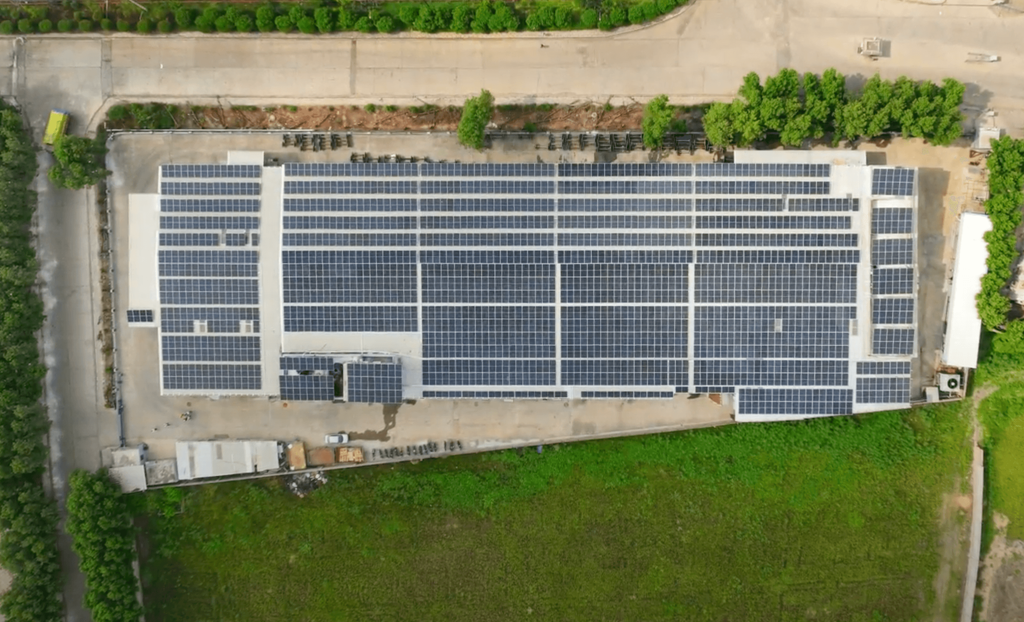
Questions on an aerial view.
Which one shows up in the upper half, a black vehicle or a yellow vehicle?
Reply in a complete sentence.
The one visible in the upper half is a yellow vehicle.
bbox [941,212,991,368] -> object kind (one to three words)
shed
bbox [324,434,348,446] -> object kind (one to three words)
vehicle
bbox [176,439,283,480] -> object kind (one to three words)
shed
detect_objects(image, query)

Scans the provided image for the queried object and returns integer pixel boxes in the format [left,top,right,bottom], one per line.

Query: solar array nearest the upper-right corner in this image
[872,169,914,195]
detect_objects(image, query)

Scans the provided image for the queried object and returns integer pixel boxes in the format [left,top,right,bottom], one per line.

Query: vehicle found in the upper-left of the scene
[42,109,70,147]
